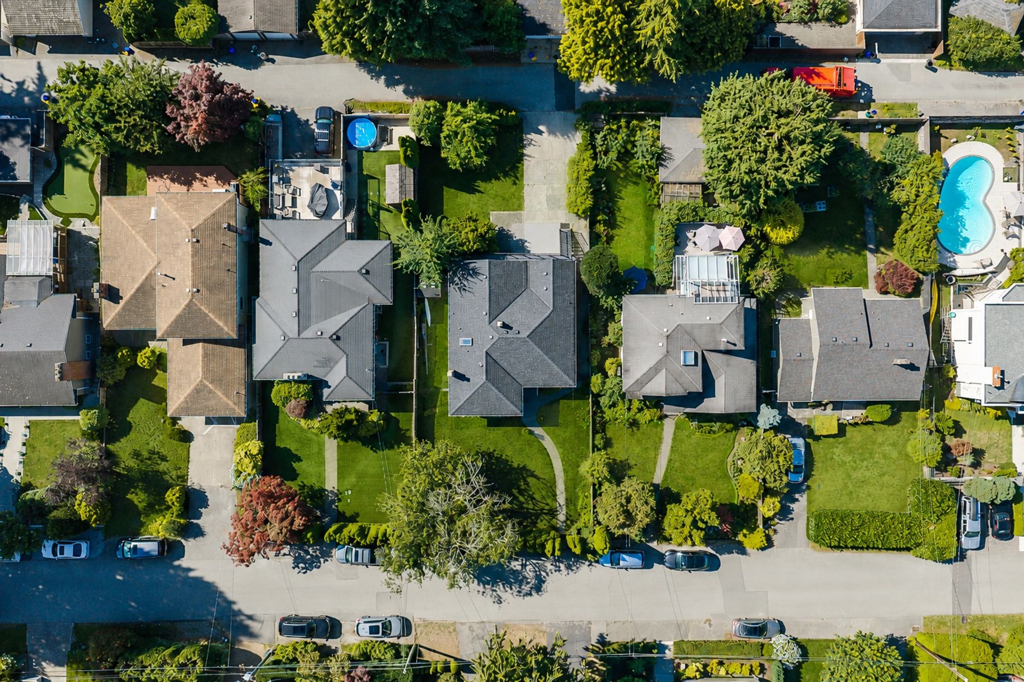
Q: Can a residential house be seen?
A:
Yes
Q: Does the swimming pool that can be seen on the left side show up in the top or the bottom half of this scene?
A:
top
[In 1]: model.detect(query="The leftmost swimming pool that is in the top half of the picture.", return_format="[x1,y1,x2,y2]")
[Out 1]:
[346,118,379,152]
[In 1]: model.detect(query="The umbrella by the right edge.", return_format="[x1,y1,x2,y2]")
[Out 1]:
[999,186,1024,221]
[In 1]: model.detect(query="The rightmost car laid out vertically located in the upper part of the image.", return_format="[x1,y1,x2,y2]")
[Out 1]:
[313,107,338,159]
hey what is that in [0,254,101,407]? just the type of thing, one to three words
house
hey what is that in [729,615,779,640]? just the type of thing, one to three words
car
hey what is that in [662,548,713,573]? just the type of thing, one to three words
car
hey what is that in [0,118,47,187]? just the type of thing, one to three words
building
